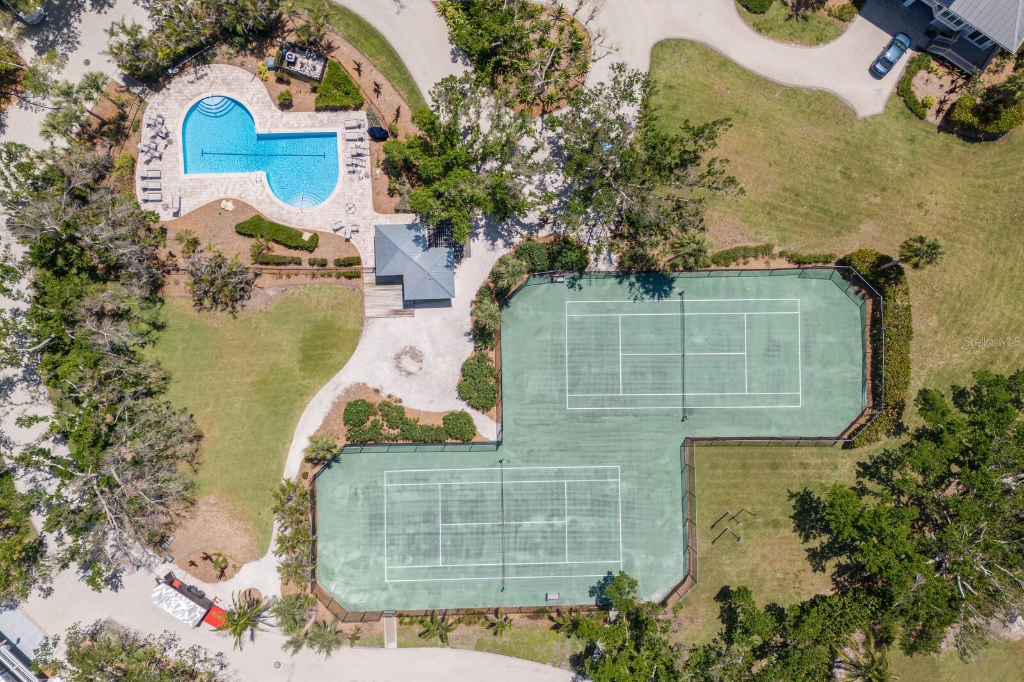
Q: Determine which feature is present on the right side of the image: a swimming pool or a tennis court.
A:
tennis court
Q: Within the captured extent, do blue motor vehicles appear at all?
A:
Yes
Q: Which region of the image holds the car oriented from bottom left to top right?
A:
top right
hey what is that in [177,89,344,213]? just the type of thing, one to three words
swimming pool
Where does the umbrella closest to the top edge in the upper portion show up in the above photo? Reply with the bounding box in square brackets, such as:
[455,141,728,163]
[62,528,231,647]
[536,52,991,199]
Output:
[368,126,389,143]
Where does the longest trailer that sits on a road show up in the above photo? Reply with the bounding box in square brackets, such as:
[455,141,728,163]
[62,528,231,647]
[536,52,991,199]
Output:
[148,571,231,632]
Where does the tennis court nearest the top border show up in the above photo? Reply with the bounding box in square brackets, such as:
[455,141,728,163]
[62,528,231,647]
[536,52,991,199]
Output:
[501,268,867,441]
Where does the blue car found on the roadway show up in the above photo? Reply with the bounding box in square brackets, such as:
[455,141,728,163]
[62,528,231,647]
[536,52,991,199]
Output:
[873,31,909,76]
